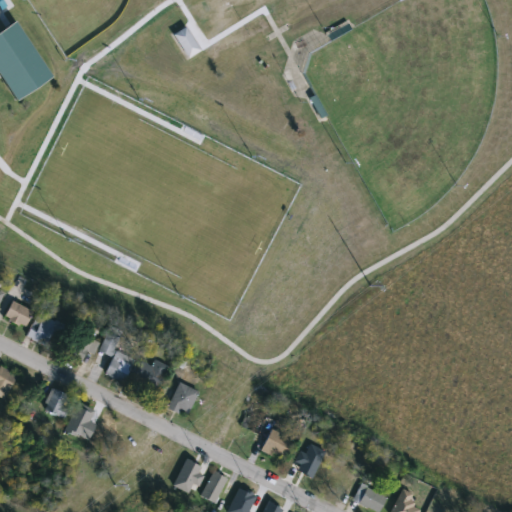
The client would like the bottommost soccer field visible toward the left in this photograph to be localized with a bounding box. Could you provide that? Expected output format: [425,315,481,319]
[34,90,290,311]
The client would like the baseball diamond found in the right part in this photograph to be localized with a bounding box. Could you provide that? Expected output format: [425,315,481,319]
[306,0,498,231]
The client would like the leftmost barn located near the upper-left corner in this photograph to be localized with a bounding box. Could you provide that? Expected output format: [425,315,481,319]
[0,22,54,100]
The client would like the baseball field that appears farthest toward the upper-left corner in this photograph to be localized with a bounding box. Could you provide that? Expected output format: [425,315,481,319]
[29,0,126,57]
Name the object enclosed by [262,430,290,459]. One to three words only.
house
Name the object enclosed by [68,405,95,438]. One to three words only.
house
